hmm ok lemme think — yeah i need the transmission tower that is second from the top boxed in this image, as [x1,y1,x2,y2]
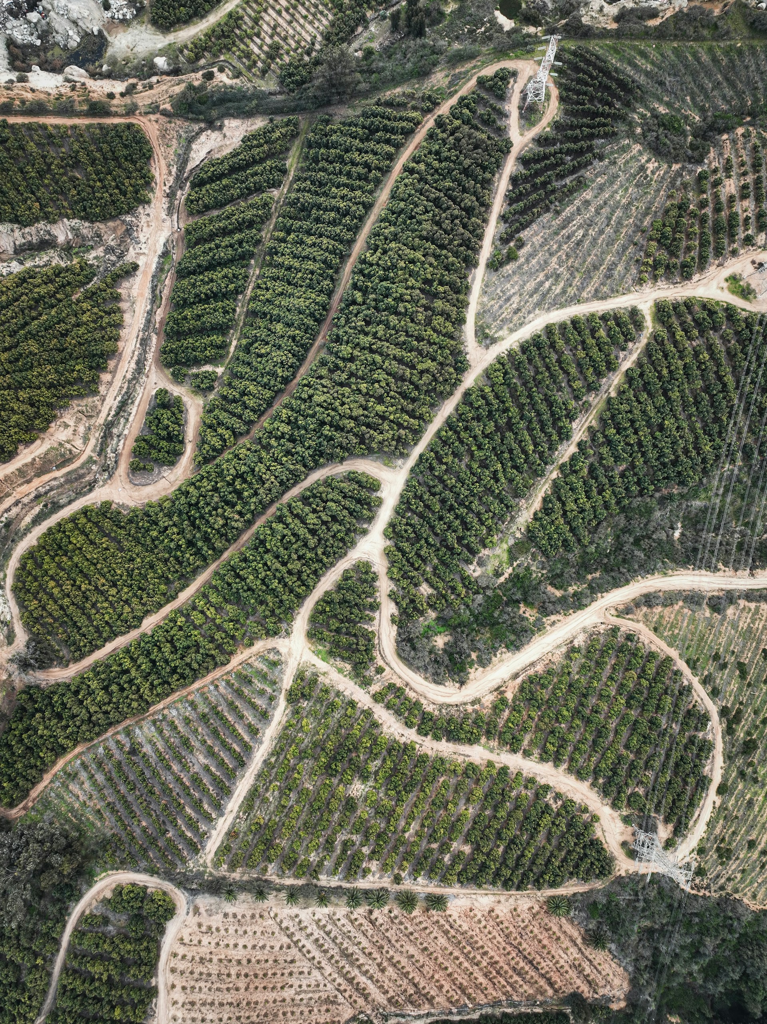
[747,259,767,290]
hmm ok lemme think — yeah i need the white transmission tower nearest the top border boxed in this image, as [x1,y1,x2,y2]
[521,23,567,114]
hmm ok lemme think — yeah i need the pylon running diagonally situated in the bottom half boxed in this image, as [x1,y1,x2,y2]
[625,824,699,892]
